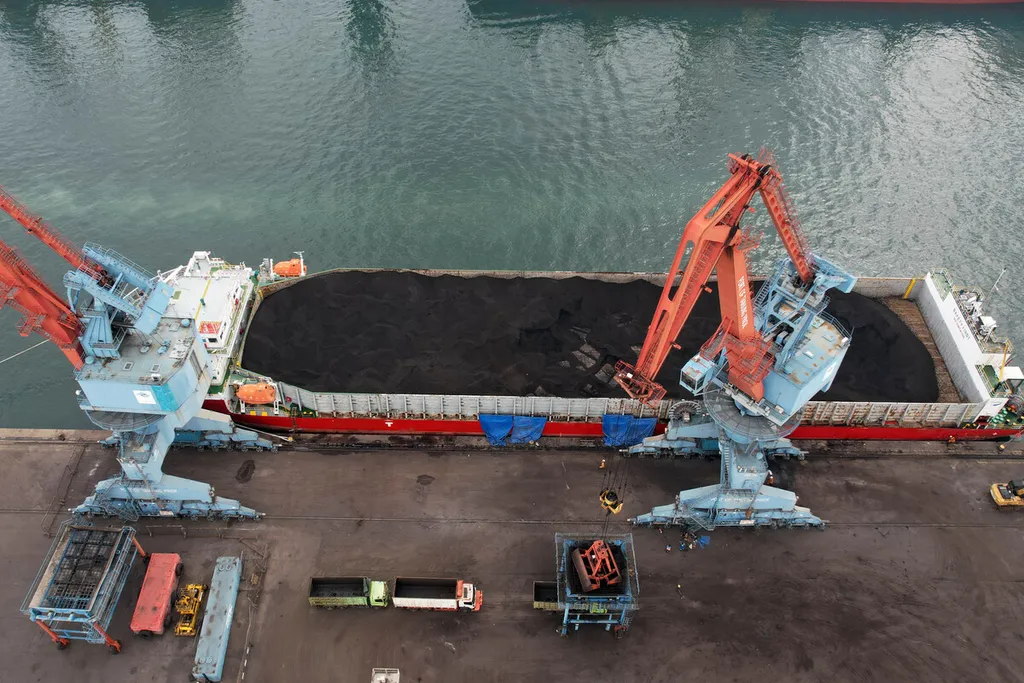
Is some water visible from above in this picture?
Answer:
Yes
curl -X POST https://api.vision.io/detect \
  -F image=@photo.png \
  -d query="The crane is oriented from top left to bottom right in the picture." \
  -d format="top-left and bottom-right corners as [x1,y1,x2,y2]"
[0,192,281,534]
